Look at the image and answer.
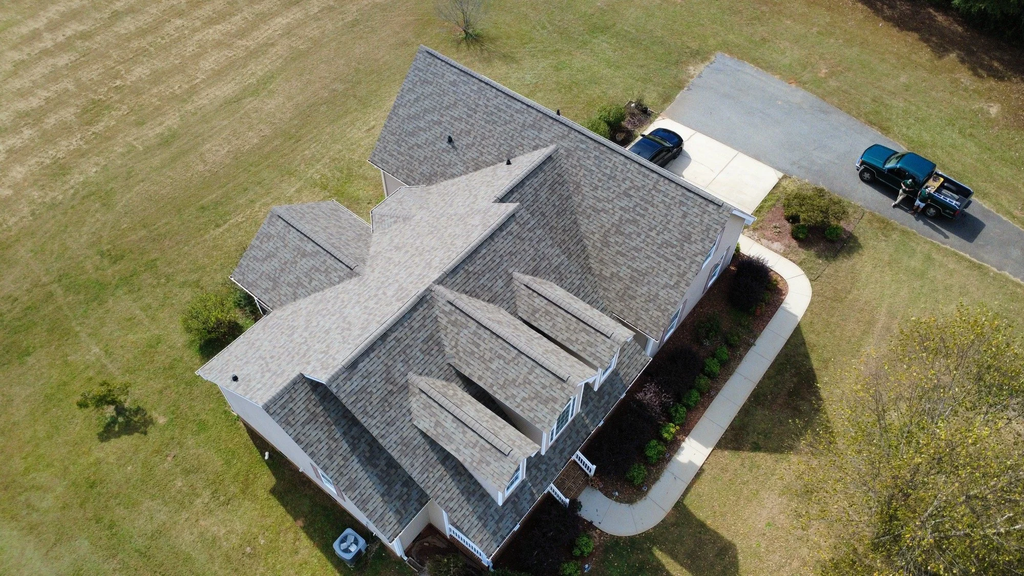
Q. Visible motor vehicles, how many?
2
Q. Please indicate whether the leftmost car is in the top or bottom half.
top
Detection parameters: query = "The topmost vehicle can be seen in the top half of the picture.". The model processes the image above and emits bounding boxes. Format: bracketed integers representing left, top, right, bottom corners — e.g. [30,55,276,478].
[628,124,684,166]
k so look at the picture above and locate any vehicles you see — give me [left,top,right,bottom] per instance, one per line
[851,145,975,221]
[628,124,684,166]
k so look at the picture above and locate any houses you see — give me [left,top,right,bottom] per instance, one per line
[194,45,758,576]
